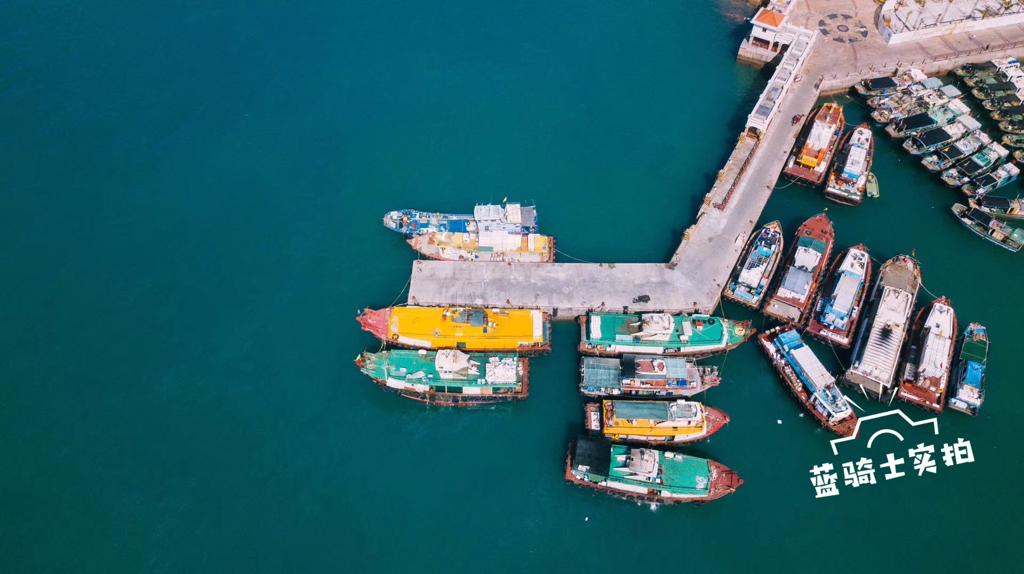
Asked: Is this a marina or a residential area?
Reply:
marina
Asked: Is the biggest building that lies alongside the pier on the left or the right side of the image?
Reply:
right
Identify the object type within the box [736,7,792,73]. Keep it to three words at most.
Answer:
building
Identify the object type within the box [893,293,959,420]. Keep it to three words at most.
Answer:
boat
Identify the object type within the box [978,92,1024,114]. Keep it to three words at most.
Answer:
boat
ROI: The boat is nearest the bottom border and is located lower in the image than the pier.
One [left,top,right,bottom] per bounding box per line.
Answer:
[561,436,746,509]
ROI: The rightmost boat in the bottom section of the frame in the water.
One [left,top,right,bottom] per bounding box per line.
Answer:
[947,320,995,419]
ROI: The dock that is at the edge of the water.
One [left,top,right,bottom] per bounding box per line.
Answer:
[409,67,824,325]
